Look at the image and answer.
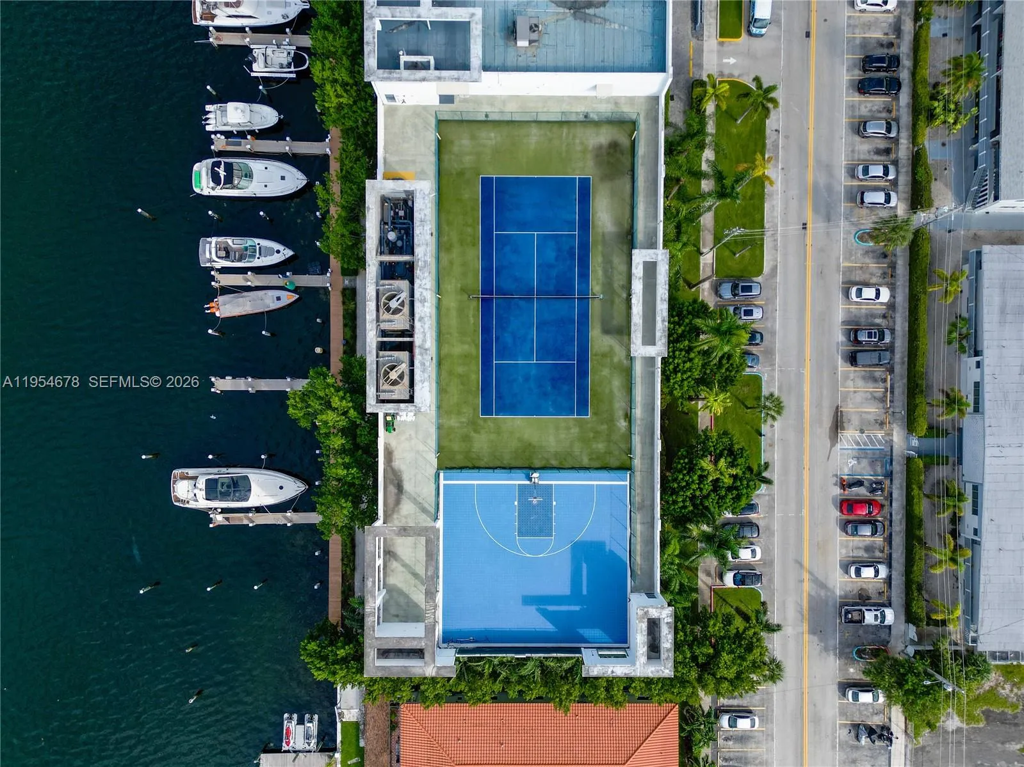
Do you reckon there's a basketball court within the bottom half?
Yes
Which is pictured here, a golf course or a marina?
marina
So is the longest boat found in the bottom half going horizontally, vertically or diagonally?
horizontally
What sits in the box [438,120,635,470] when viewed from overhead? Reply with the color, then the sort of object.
green tennis court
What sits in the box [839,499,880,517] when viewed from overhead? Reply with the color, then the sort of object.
red car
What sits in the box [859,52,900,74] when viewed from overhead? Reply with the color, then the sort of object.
black car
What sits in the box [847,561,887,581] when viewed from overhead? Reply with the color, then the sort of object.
white car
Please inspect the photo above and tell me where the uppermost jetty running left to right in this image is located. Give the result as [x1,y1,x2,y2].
[209,26,325,55]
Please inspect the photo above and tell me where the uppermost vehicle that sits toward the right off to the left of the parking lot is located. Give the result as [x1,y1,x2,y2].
[748,0,773,40]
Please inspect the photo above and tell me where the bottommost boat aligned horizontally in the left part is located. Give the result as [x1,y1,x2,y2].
[172,468,309,513]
